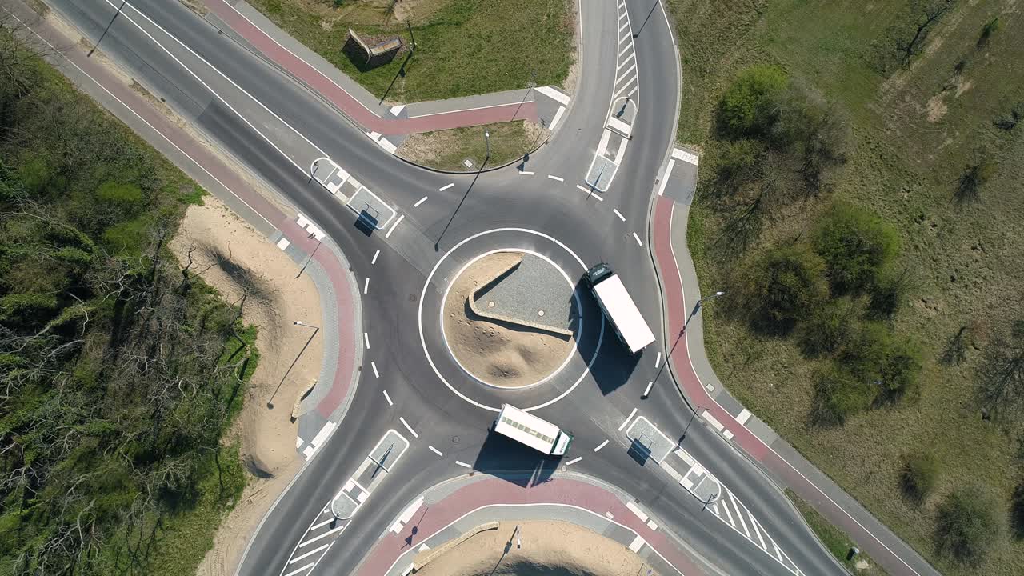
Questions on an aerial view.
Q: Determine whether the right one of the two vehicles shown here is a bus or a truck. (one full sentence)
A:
I'd say the right one of the two vehicles is a truck.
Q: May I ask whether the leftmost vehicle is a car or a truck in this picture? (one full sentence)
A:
From above, the leftmost vehicle can be identified as a truck.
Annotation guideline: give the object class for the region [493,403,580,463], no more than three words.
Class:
truck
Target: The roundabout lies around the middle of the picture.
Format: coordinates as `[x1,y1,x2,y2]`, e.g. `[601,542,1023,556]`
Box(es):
[371,181,652,462]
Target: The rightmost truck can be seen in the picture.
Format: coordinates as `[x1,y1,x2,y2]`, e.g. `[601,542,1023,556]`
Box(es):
[580,258,656,355]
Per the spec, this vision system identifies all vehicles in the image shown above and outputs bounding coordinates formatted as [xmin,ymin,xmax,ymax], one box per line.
[493,403,580,463]
[580,258,656,355]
